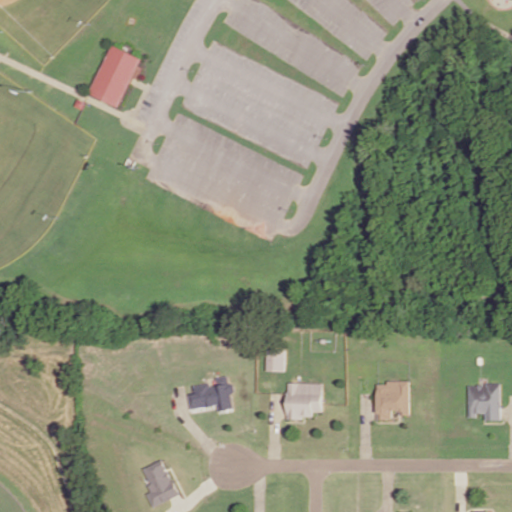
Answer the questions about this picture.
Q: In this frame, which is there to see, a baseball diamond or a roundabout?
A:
baseball diamond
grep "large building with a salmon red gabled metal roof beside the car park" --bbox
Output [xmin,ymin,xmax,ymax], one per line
[90,48,141,107]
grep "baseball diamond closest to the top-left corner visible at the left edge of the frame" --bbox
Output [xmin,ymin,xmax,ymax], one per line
[0,0,109,67]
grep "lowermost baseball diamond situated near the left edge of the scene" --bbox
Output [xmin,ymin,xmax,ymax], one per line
[0,72,96,268]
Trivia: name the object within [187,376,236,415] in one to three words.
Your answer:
house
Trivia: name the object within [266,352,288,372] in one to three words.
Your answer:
shed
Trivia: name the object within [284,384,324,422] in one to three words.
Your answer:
house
